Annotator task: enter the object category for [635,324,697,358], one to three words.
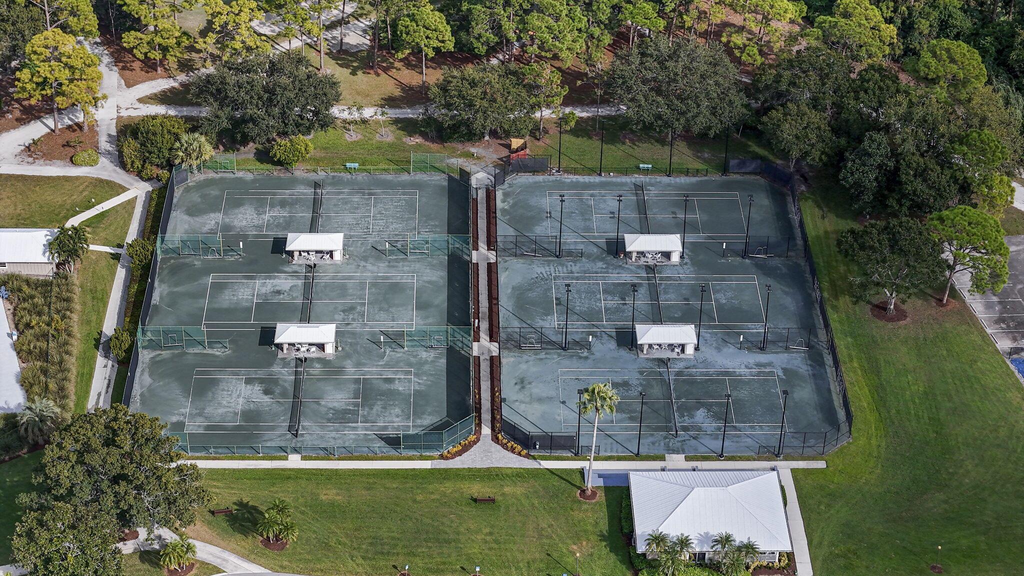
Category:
building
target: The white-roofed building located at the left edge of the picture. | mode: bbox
[0,229,60,275]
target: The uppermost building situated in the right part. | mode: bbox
[623,233,682,265]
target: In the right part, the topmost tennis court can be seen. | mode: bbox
[495,176,806,259]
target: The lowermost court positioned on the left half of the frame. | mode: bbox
[123,350,473,454]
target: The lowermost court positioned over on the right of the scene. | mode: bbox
[499,350,850,455]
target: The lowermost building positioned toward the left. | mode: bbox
[274,323,337,357]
